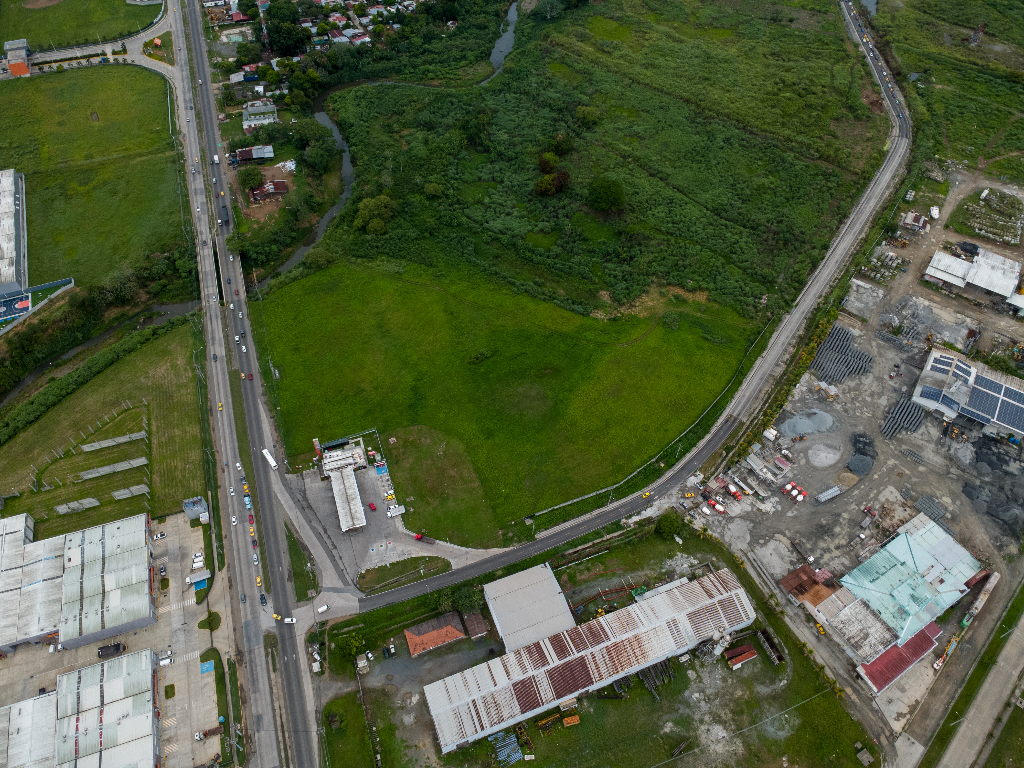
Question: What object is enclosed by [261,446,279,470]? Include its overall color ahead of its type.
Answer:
white vehicle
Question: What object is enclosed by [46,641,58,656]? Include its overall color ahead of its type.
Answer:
white vehicle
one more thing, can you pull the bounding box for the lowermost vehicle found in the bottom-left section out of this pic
[197,725,220,738]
